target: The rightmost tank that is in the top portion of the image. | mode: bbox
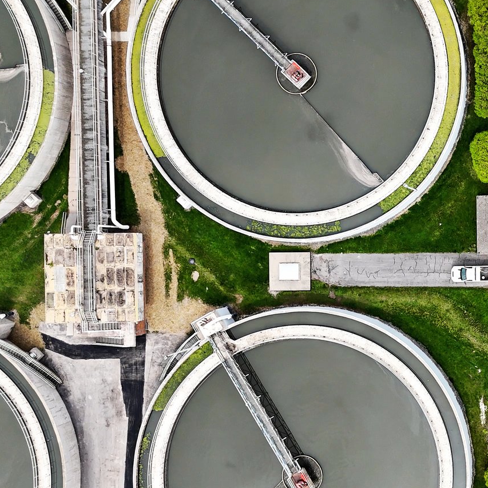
[130,0,469,246]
